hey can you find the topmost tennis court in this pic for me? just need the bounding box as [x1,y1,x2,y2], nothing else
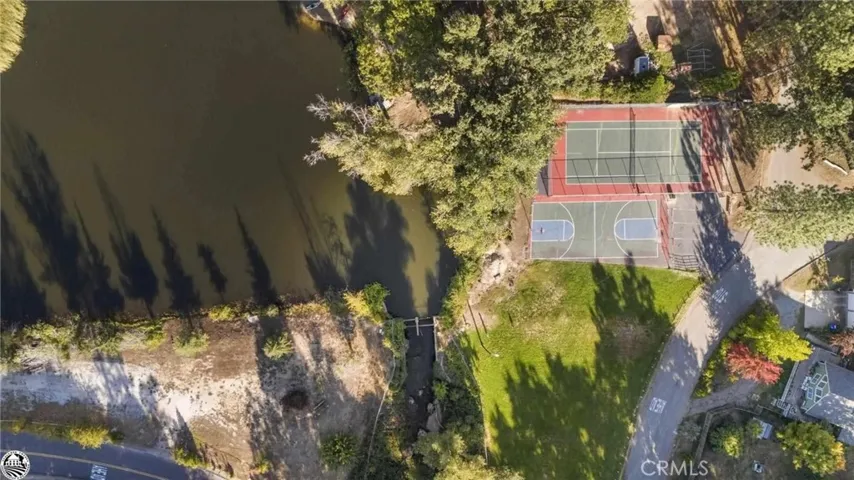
[551,108,717,194]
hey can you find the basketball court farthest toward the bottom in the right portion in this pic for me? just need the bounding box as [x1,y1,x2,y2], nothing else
[526,194,717,272]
